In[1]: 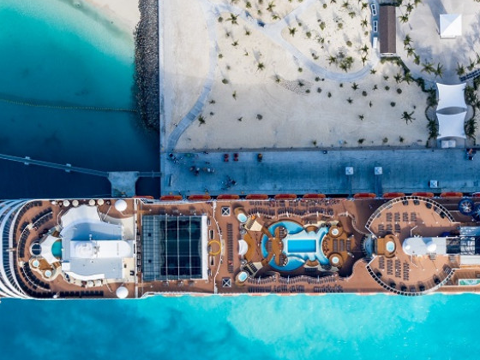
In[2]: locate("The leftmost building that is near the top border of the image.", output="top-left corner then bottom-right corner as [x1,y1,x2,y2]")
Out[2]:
[379,4,397,56]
